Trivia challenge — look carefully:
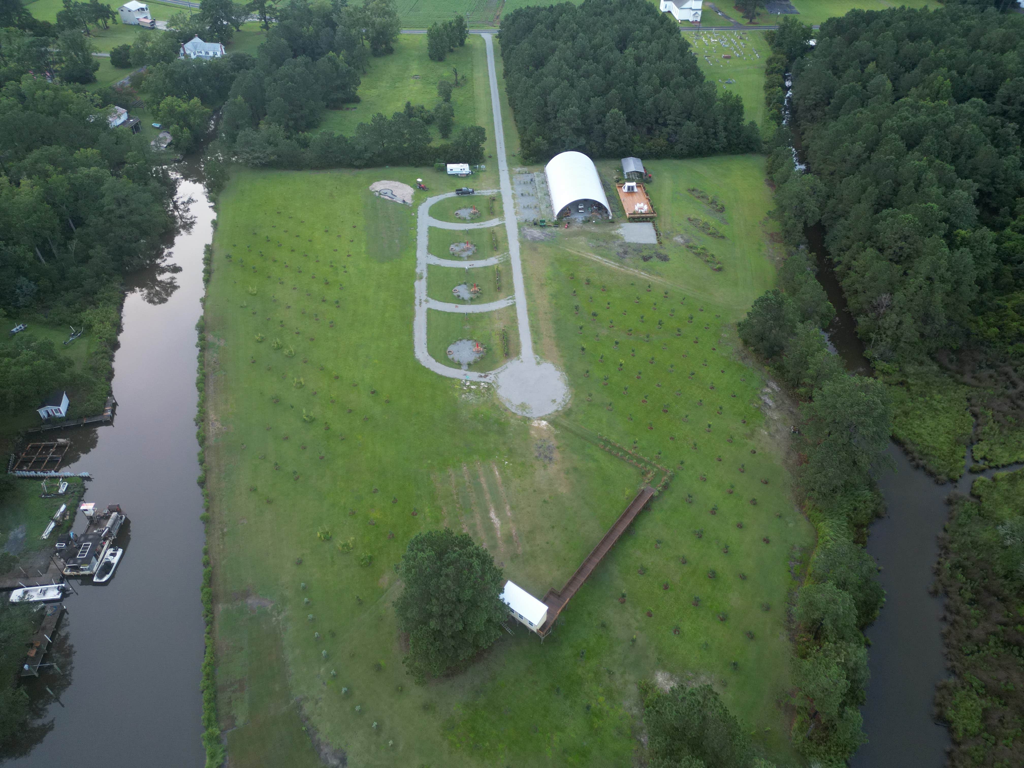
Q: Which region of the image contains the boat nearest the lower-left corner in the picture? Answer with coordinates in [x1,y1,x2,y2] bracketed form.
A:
[6,585,69,601]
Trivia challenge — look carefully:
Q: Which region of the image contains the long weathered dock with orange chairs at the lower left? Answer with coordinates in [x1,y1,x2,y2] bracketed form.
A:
[21,606,65,677]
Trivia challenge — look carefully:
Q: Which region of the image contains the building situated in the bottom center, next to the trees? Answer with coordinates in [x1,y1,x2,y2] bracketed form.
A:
[497,577,550,638]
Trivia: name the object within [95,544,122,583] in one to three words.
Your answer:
boat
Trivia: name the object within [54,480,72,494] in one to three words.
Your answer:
boat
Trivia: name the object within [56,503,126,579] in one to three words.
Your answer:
ship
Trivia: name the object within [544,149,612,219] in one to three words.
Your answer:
building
